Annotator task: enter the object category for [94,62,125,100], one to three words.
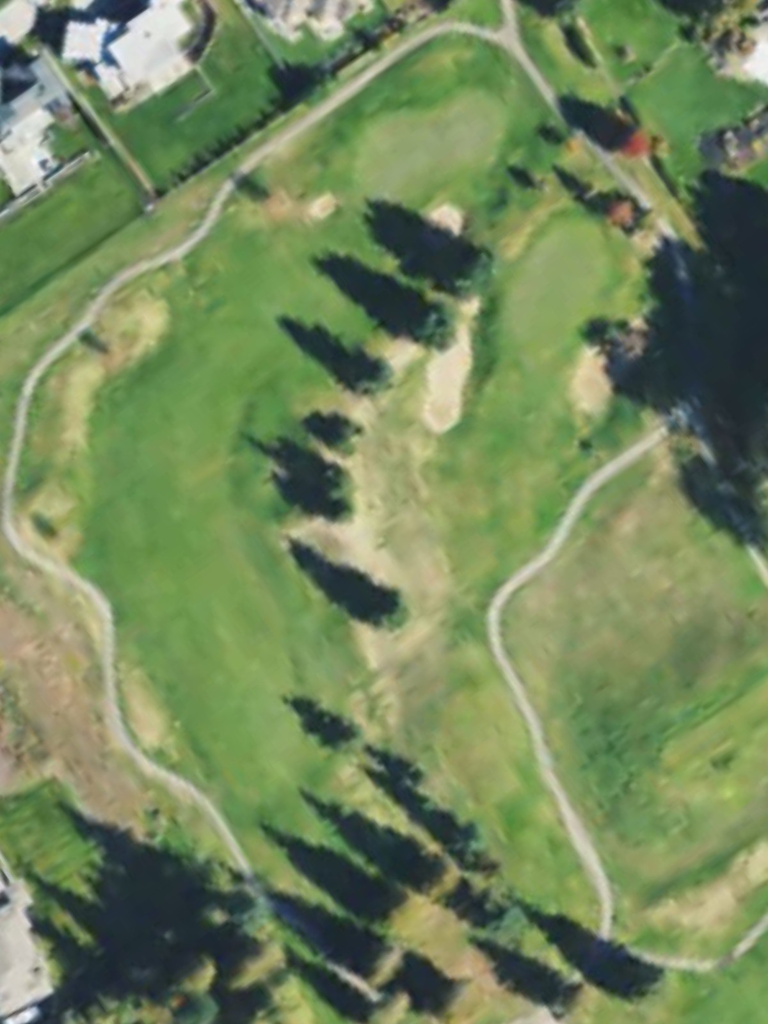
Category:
shed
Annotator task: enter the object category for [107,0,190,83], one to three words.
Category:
house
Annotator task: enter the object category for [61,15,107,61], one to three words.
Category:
house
